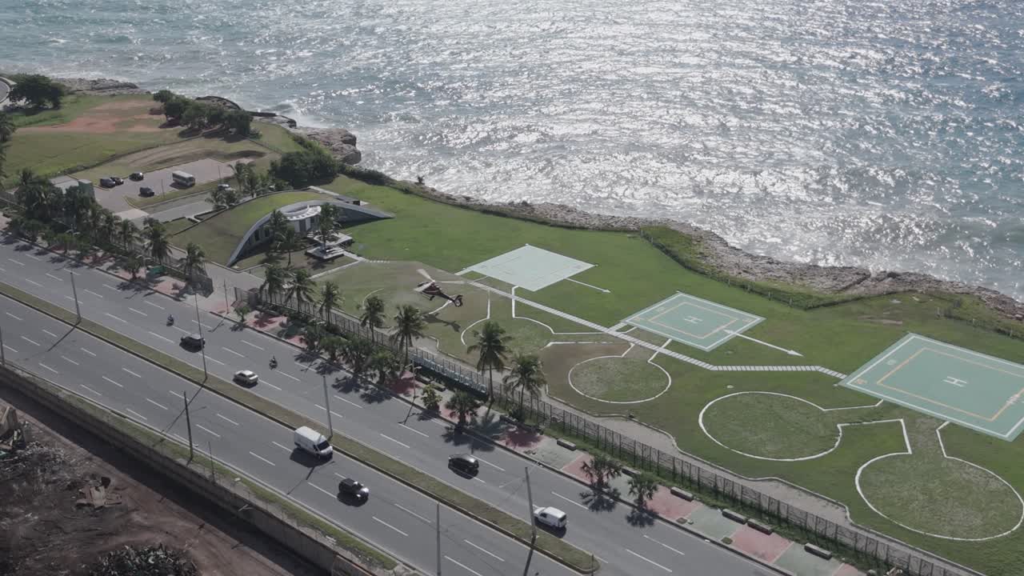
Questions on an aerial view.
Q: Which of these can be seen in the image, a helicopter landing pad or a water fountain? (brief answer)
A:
helicopter landing pad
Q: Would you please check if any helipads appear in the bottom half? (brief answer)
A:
Yes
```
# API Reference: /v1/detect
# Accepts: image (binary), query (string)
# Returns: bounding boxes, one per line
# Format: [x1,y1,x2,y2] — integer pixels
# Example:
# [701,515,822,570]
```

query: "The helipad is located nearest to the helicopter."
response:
[468,242,596,294]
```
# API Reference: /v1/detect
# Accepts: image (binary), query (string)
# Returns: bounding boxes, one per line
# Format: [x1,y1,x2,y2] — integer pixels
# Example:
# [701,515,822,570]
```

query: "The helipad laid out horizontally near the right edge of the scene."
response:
[836,329,1024,443]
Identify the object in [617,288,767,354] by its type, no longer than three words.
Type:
helipad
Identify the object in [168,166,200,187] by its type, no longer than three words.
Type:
vehicle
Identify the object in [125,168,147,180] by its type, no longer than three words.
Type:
vehicle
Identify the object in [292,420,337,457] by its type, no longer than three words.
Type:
van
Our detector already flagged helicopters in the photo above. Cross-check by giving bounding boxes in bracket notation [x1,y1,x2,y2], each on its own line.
[409,267,465,311]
